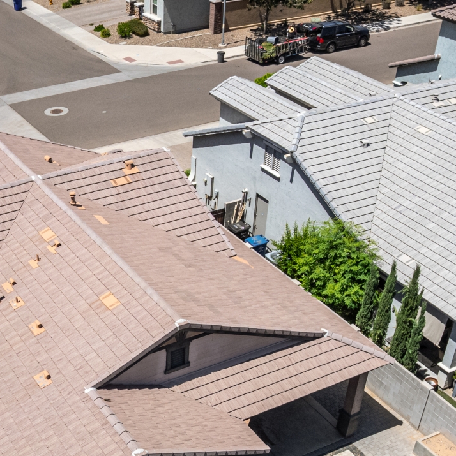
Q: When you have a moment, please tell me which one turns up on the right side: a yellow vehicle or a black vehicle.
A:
black vehicle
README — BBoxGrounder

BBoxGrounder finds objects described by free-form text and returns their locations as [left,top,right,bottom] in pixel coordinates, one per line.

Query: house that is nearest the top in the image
[136,0,208,34]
